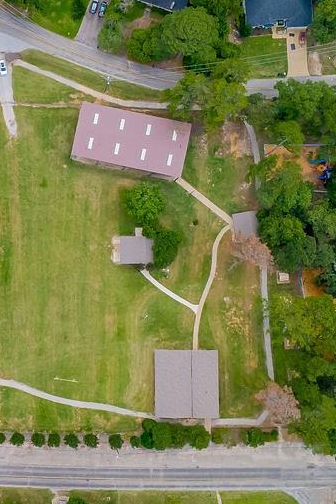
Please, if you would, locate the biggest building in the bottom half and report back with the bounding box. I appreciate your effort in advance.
[153,350,219,419]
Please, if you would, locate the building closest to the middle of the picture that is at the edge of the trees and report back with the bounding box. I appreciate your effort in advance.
[112,228,153,265]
